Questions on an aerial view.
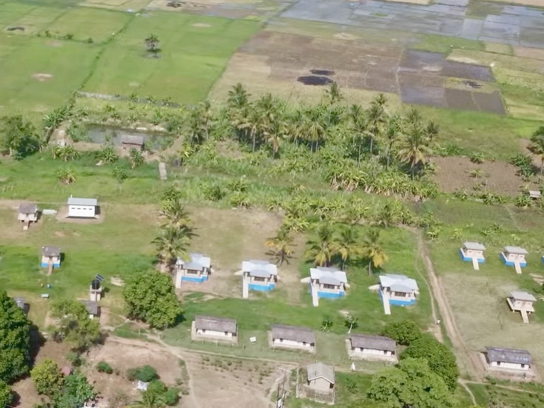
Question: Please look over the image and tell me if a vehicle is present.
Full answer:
No, the picture doesn't show any vehicle.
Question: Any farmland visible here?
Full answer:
Yes, farmland can be seen from above here.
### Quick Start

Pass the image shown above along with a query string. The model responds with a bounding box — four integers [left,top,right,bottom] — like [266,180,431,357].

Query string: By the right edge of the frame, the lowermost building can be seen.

[480,347,536,380]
